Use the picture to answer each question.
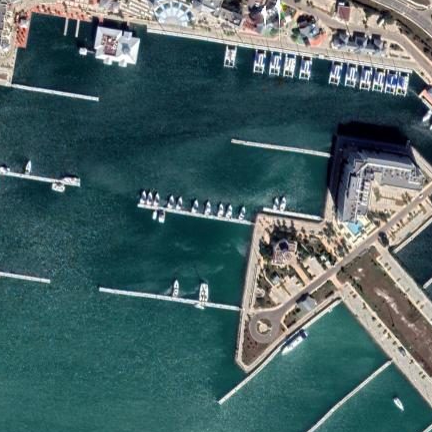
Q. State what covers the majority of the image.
water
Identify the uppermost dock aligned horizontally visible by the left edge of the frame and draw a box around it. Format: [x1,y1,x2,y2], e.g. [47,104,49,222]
[10,83,100,101]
